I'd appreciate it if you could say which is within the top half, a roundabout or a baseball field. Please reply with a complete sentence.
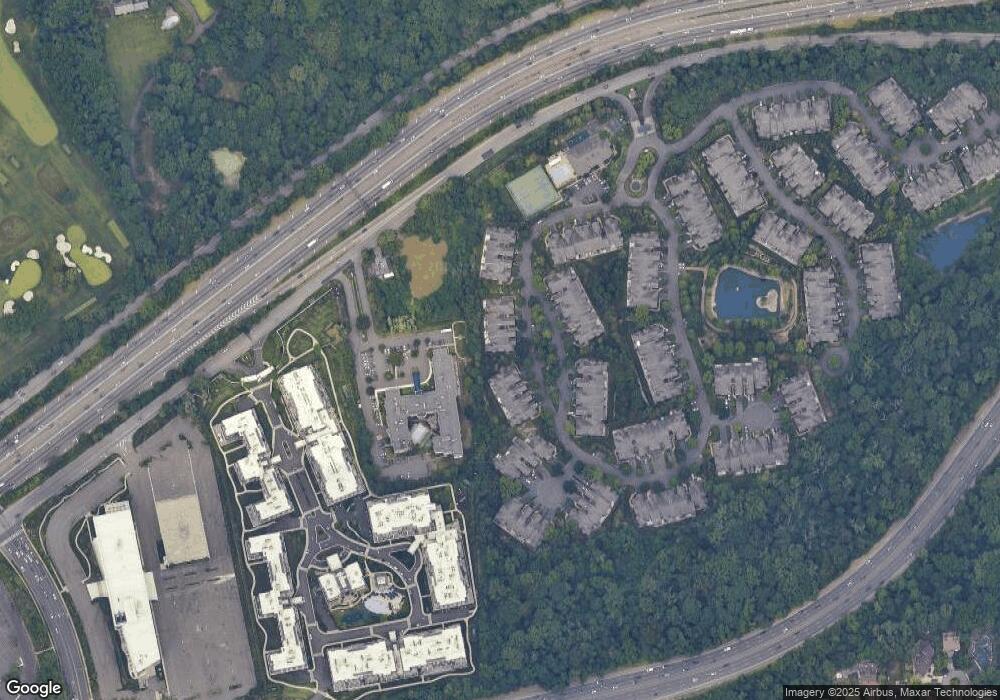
The feature located within the top half is a roundabout.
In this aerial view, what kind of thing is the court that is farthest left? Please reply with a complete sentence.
The court that is farthest left appears to be a tennis court.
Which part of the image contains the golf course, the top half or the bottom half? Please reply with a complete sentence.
It is in the top half that the golf course appears.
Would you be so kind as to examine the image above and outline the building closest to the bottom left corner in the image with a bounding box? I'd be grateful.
[87,500,161,687]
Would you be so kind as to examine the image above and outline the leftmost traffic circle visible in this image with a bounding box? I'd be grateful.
[612,125,664,210]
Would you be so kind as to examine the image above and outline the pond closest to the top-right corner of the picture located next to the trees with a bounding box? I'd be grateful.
[923,208,990,270]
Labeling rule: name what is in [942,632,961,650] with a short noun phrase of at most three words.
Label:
house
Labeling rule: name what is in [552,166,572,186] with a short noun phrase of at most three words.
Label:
swimming pool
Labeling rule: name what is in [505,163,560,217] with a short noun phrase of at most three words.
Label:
tennis court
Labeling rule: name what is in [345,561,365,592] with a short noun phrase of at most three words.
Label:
building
